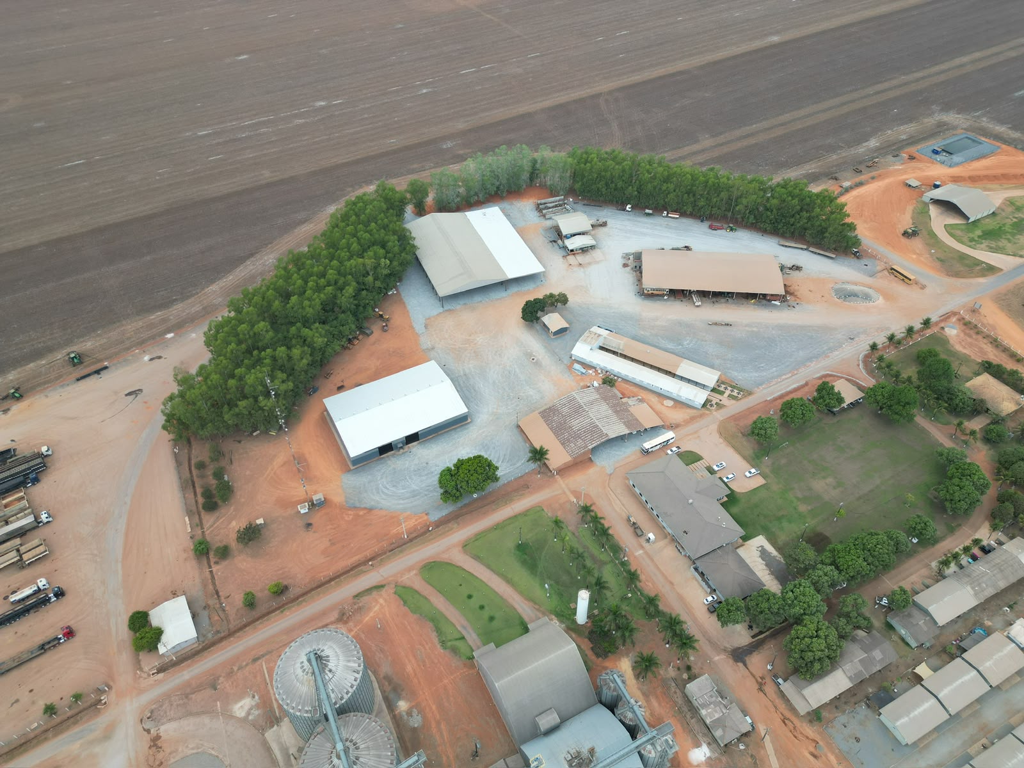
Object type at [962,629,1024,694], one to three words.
house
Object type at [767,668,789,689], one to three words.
vehicle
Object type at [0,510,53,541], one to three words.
truck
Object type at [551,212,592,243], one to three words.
shed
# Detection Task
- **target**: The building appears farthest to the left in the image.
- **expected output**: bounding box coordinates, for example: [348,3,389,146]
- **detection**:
[149,596,202,662]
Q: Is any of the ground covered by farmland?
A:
Yes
